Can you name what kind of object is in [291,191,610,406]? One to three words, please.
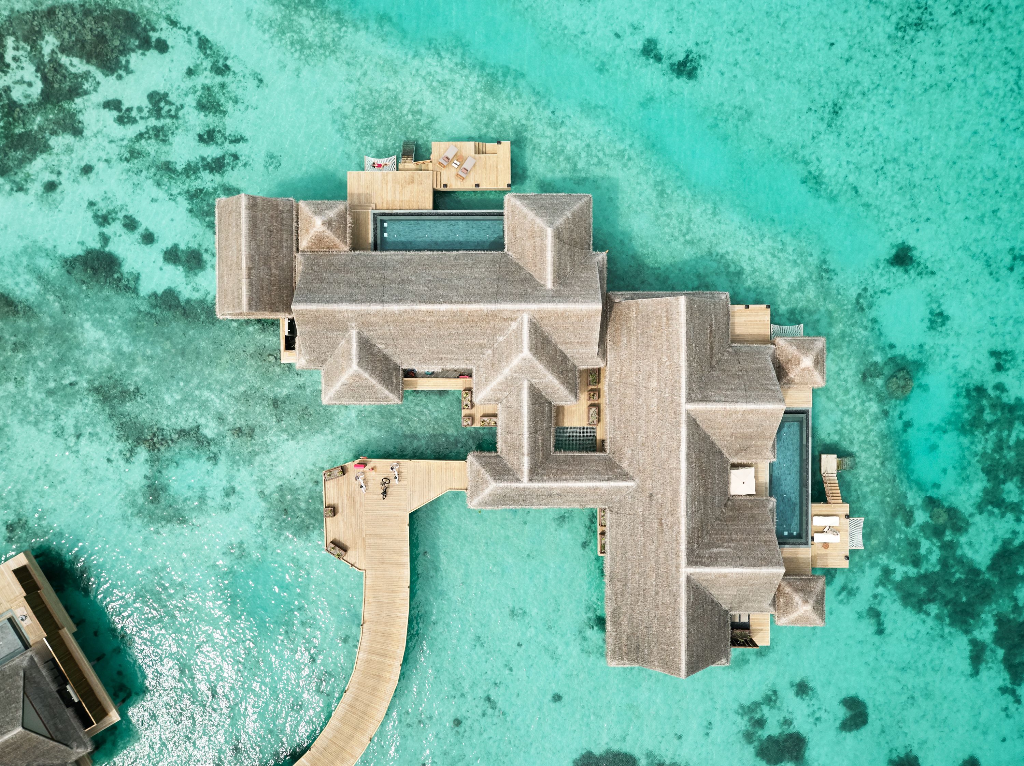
house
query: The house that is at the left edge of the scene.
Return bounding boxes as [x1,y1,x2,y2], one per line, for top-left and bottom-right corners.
[0,547,133,766]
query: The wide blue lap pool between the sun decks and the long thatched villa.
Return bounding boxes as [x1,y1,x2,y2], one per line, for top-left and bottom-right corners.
[371,210,507,254]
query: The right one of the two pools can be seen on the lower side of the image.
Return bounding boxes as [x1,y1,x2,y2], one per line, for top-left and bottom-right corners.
[765,407,812,548]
